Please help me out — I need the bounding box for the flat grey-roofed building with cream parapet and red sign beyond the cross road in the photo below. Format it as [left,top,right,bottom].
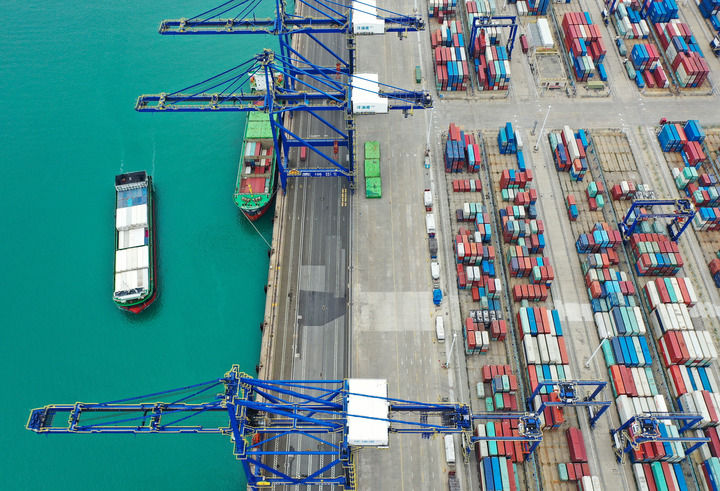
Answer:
[529,59,567,94]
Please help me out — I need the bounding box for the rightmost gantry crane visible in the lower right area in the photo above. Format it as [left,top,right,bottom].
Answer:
[612,410,719,468]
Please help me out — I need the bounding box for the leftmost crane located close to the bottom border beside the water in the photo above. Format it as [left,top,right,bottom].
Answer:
[22,365,473,491]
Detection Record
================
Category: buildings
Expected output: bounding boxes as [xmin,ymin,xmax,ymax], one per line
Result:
[529,59,567,94]
[532,23,553,55]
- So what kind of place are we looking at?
port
